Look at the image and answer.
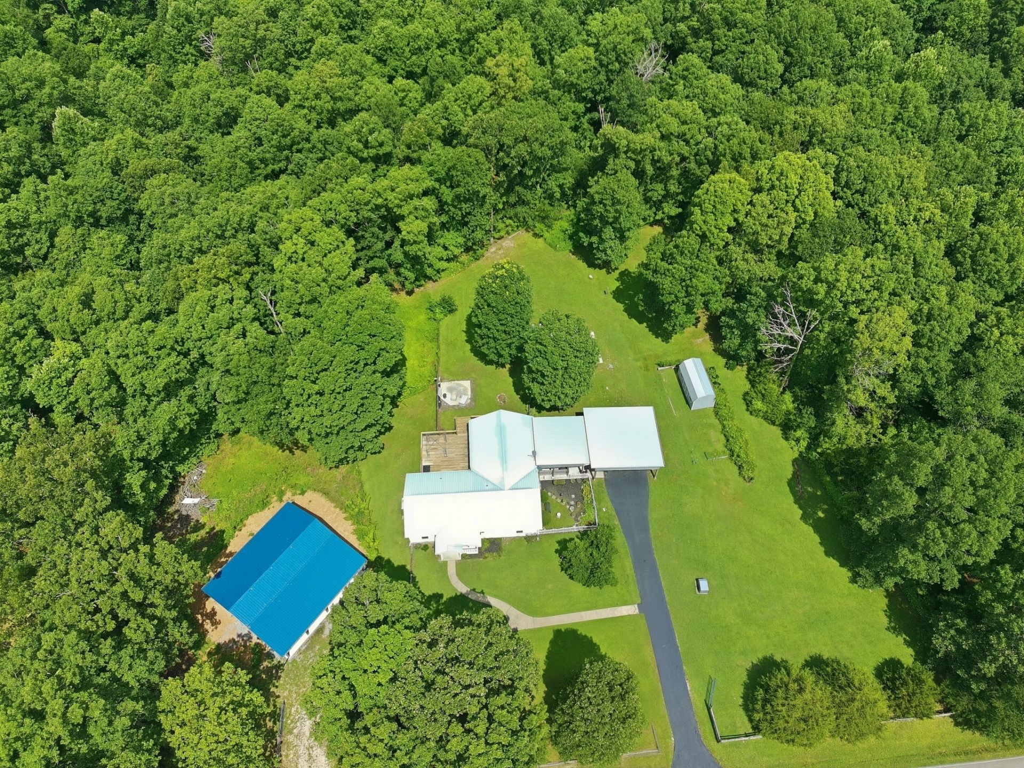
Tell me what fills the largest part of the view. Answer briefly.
trees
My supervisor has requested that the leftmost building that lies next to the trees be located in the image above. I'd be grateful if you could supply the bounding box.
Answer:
[202,501,368,661]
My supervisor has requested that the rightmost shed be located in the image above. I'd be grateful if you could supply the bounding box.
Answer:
[678,355,719,410]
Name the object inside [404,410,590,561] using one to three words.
house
